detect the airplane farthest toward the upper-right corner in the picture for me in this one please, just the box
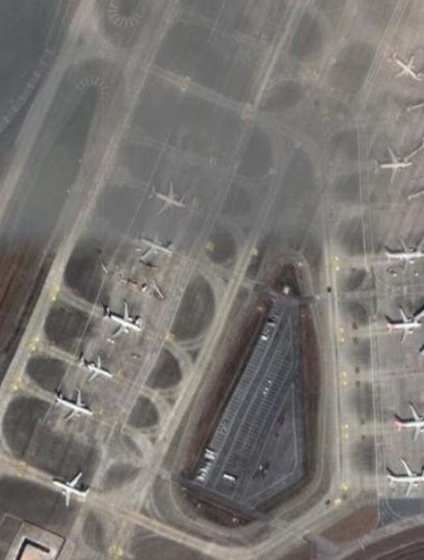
[391,52,419,80]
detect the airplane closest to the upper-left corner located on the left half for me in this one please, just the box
[148,181,185,214]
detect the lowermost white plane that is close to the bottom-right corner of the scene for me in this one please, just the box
[388,458,424,495]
